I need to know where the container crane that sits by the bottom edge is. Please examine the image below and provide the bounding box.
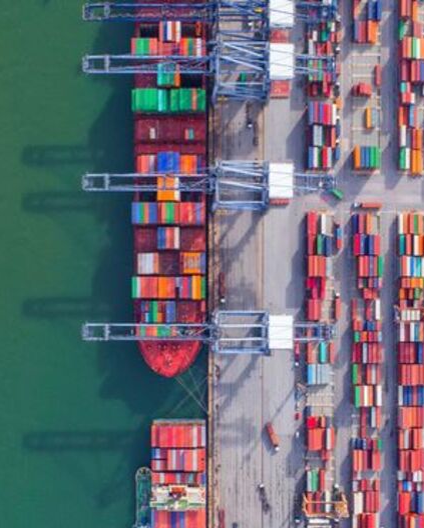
[301,489,348,516]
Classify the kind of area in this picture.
port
